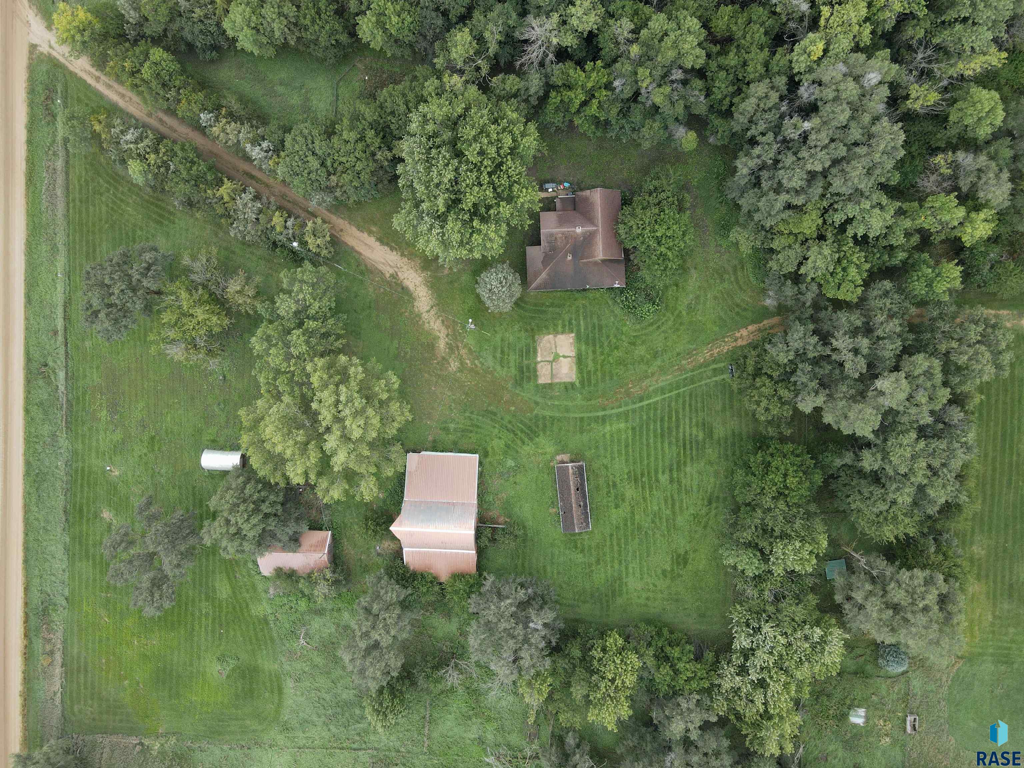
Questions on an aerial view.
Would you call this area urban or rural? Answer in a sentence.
From above, the setting appears rural.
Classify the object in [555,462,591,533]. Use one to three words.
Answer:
shed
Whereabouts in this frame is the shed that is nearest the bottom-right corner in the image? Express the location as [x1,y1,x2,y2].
[828,561,850,583]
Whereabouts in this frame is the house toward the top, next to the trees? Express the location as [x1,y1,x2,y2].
[526,188,625,292]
